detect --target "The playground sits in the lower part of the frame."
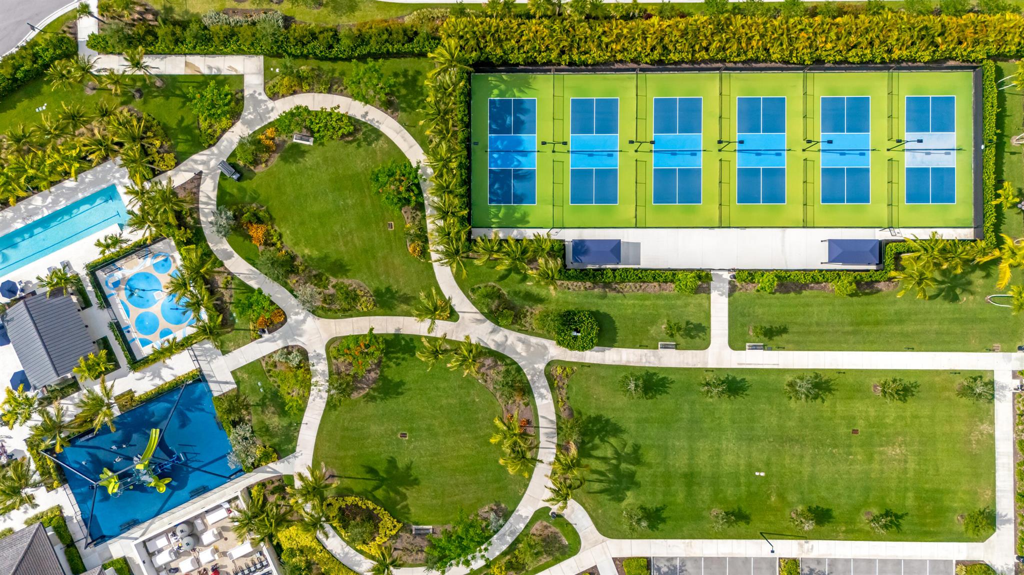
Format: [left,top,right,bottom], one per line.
[54,381,242,552]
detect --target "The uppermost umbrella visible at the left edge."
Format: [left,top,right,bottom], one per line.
[1,280,23,300]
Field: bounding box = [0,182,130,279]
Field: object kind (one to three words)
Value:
swimming pool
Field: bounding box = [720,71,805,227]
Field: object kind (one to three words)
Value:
sports court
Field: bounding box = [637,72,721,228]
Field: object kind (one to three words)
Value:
sports court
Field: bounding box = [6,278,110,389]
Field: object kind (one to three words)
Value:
building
